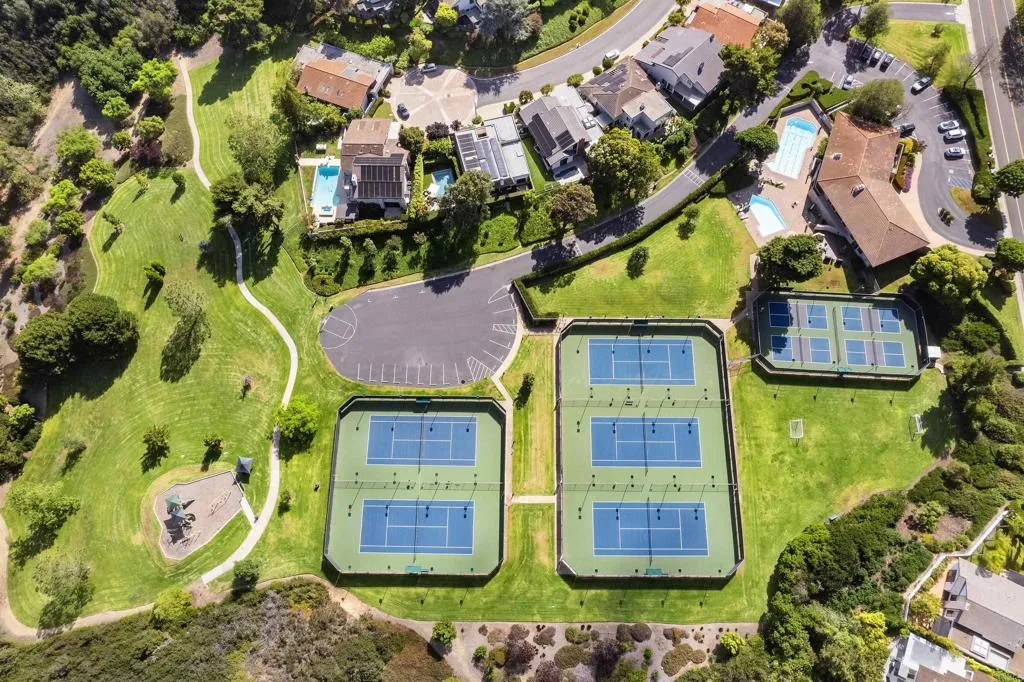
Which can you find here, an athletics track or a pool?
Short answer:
pool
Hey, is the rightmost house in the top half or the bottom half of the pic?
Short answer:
bottom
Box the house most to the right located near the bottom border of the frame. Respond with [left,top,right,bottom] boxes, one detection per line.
[934,558,1024,669]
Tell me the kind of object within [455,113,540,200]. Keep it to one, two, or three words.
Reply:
house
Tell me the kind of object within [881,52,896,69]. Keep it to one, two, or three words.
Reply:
car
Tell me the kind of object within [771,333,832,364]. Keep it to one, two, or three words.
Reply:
sports court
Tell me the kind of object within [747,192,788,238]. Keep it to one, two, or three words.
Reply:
swimming pool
